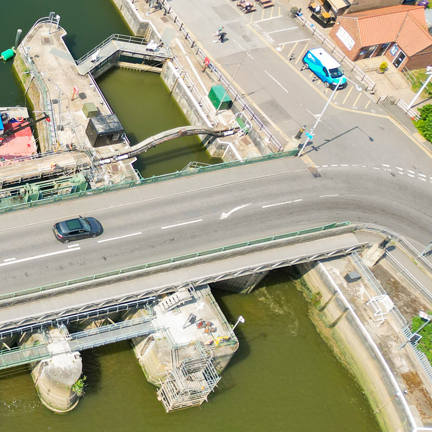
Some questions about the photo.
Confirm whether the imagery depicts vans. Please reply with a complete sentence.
Yes, a van is visible in the scene.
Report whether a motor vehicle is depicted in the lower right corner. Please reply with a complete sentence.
No, in the lower right corner there is no motor vehicle.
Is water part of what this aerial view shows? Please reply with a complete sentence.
Yes, some water is visible.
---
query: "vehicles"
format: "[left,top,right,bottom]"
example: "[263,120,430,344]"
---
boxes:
[53,214,102,242]
[301,44,348,89]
